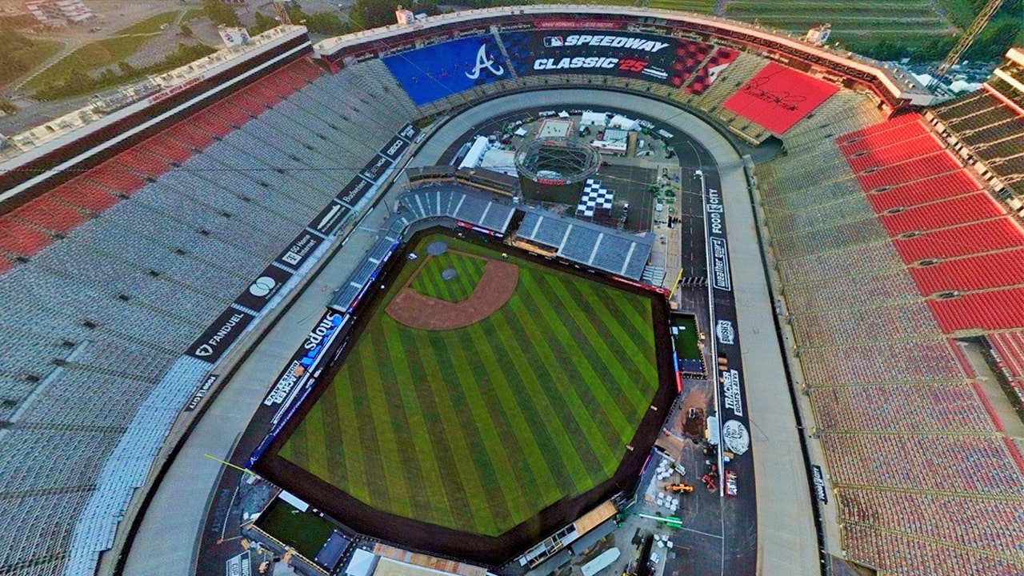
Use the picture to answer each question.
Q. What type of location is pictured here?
sports ground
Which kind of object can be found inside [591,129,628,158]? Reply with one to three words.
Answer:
building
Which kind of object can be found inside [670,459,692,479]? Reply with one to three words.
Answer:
vehicle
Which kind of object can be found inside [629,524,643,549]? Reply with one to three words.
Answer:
work vehicle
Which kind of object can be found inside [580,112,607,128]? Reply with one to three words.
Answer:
tent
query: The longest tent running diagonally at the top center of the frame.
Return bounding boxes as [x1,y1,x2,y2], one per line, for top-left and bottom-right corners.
[459,137,489,172]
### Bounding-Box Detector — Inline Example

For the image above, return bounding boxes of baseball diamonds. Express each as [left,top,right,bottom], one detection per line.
[251,225,680,565]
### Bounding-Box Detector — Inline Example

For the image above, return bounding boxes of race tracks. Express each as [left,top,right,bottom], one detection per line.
[98,80,855,576]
